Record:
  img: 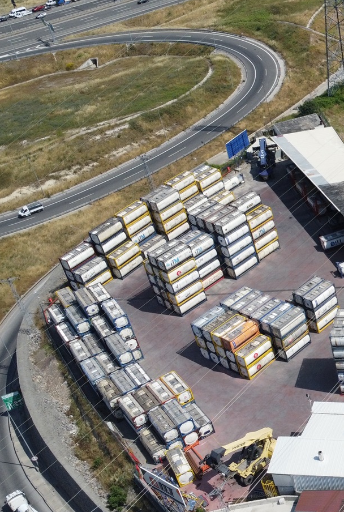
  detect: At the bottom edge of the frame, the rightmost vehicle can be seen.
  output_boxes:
[205,432,280,495]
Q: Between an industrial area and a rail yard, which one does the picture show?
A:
industrial area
